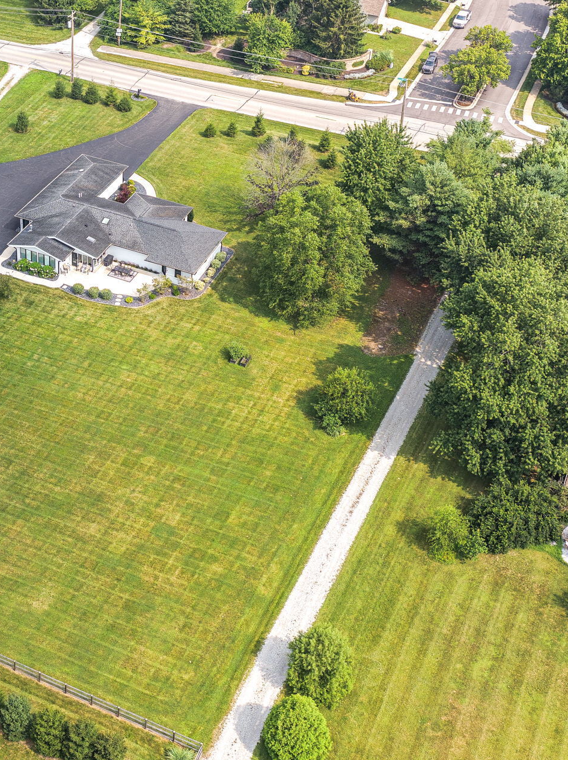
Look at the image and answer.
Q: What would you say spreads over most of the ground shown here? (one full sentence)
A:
Most of the picture is covered by grass.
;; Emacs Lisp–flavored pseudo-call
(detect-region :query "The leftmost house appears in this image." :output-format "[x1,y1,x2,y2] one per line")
[6,154,228,289]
